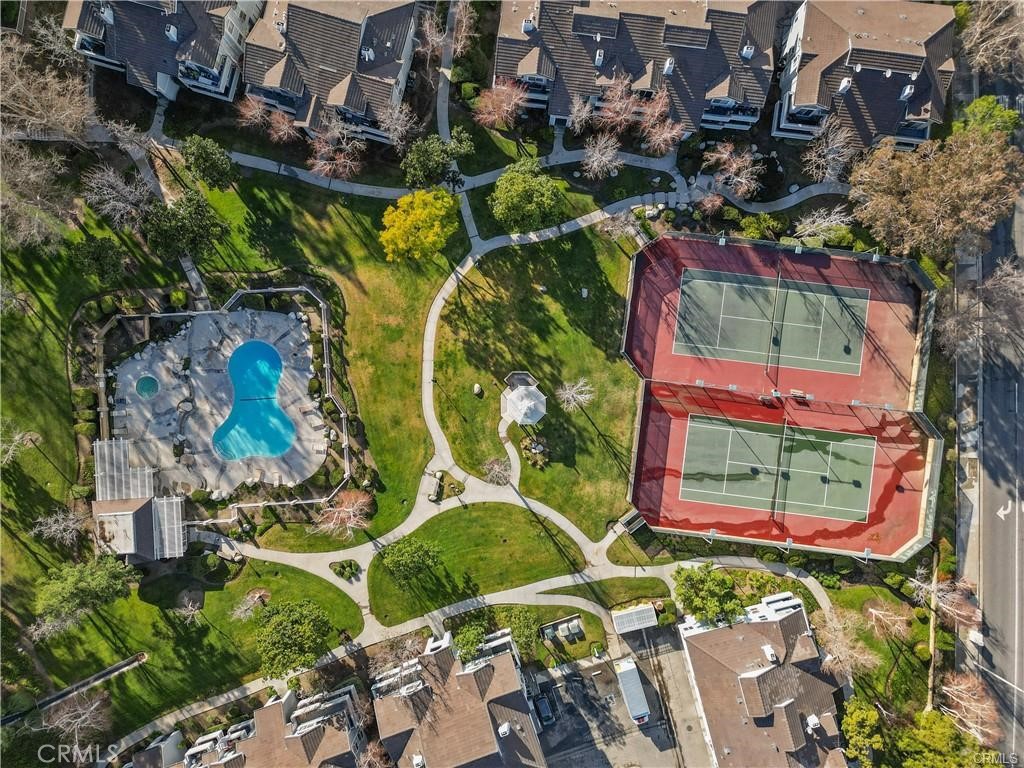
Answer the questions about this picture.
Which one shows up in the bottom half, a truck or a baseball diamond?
truck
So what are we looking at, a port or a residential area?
residential area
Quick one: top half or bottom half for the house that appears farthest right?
top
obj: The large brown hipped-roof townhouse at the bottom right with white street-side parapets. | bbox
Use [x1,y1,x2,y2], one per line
[674,588,846,768]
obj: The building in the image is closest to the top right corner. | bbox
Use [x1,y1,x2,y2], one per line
[768,0,956,152]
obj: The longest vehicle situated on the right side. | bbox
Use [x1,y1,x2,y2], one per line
[613,657,651,727]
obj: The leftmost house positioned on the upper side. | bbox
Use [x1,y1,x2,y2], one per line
[63,0,244,111]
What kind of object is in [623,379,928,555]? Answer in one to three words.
tennis court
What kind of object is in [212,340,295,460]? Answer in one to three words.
swimming pool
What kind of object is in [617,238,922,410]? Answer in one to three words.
tennis court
